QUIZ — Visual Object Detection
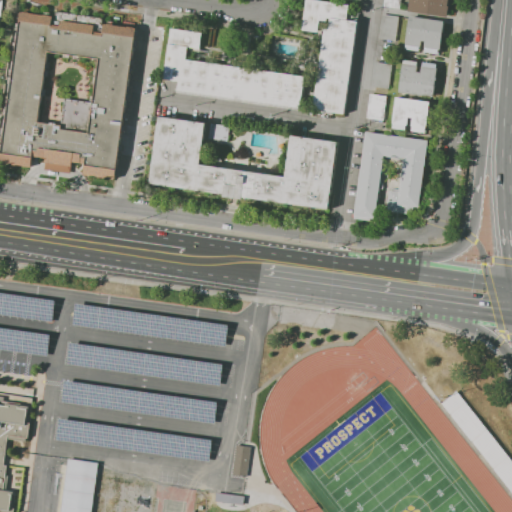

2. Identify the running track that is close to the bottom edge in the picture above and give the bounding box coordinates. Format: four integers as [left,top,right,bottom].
[258,328,512,512]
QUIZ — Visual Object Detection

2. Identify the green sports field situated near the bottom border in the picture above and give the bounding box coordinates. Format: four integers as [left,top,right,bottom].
[286,379,496,512]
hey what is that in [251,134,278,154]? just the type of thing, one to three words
swimming pool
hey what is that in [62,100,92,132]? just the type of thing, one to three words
building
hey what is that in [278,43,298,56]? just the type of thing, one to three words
swimming pool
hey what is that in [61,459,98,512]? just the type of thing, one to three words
shed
